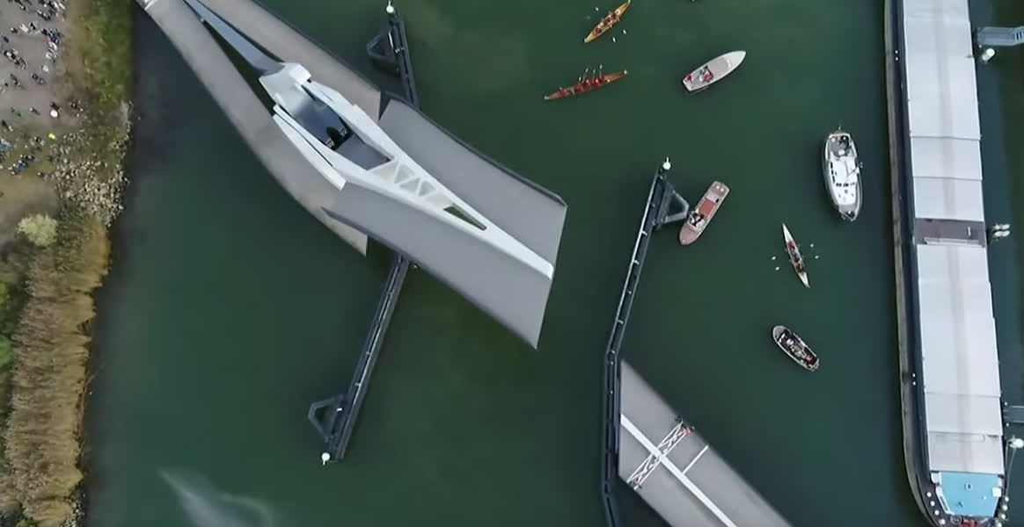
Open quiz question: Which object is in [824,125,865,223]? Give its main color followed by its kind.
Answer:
white boat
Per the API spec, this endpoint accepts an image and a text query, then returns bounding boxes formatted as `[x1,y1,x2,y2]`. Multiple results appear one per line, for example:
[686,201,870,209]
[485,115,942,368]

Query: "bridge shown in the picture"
[136,0,792,527]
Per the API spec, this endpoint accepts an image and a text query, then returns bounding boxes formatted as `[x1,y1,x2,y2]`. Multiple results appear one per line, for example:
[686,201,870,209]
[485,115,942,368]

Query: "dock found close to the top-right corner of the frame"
[974,24,1024,54]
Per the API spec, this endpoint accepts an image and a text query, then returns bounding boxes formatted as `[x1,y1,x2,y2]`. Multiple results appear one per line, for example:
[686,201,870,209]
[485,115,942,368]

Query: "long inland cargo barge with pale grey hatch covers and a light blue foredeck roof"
[884,0,1008,527]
